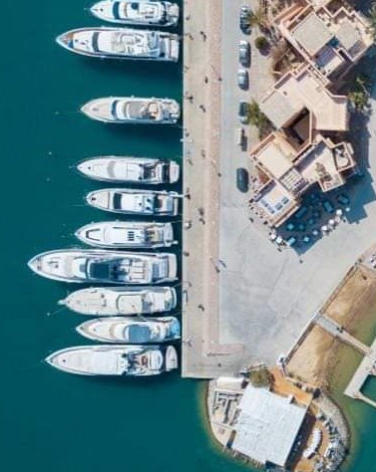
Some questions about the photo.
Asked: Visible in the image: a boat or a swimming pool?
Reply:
boat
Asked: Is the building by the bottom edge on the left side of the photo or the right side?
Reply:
right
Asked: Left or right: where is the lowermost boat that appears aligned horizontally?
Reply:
left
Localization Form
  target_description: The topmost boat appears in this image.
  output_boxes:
[84,0,189,28]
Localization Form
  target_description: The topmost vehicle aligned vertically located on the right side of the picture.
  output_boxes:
[238,8,250,33]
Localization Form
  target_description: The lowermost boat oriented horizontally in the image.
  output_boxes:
[38,344,171,376]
